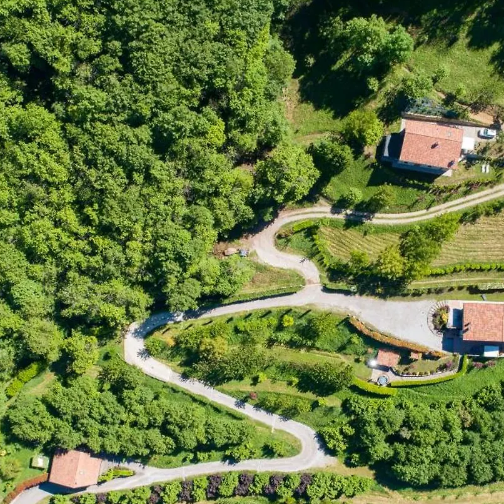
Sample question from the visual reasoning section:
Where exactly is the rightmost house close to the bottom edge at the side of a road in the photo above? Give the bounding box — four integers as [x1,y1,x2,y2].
[48,451,102,489]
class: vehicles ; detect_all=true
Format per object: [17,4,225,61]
[239,250,248,256]
[481,129,497,137]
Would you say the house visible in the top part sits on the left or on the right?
right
